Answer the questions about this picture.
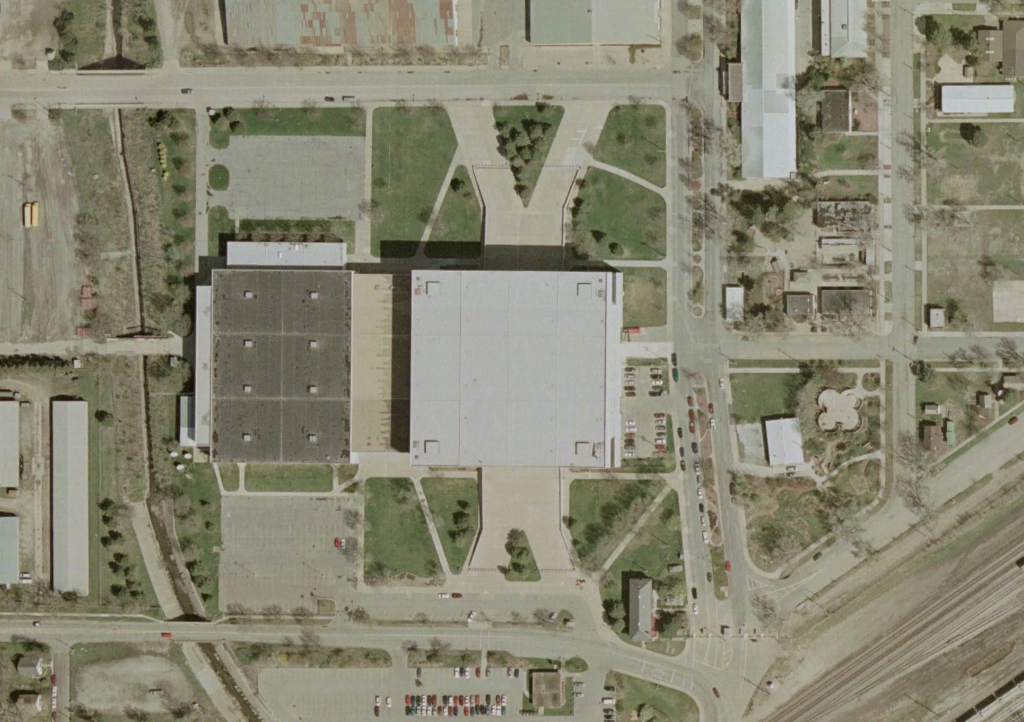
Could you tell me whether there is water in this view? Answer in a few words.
No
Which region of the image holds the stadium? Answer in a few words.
center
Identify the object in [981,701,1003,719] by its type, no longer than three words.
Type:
rail car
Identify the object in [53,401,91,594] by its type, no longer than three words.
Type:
building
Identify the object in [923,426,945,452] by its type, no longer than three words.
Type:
house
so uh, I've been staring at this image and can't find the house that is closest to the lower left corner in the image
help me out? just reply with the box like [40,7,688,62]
[14,695,40,715]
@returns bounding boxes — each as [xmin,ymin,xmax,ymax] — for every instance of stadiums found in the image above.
[410,270,621,468]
